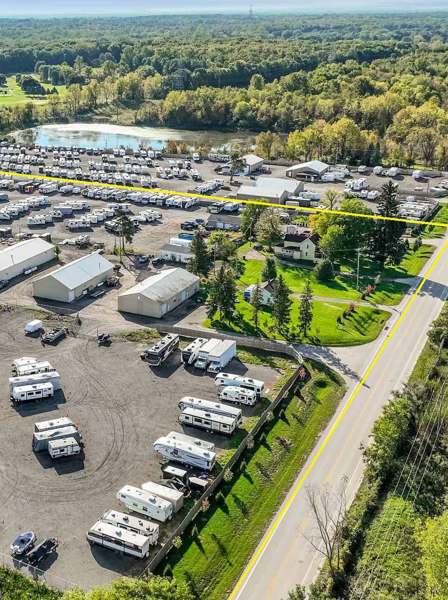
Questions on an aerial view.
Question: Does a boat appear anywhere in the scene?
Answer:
Yes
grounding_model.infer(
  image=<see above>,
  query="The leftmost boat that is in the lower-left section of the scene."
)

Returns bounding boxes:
[9,524,38,550]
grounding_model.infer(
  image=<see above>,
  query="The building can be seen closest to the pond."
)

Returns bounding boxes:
[237,155,265,173]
